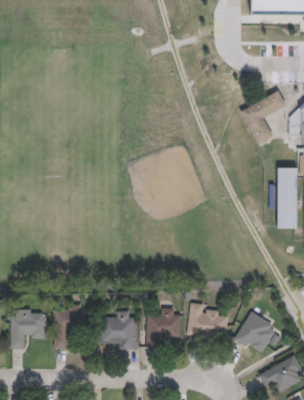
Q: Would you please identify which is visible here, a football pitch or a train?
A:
football pitch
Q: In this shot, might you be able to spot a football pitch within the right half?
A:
No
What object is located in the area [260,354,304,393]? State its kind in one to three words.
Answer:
house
